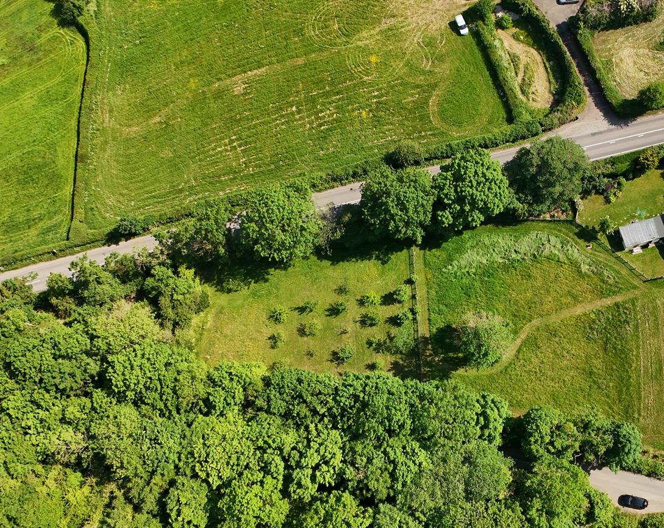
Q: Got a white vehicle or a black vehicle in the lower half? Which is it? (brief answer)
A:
black vehicle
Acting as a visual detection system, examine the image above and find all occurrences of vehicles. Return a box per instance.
[558,0,579,6]
[618,493,648,509]
[453,11,470,37]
